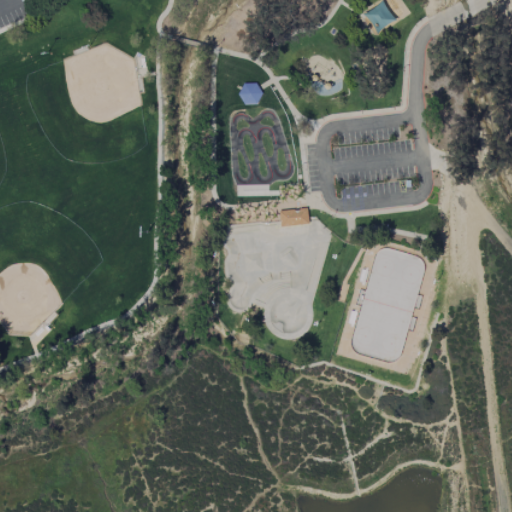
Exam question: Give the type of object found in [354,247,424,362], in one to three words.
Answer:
sports court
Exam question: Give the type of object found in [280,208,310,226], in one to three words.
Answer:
building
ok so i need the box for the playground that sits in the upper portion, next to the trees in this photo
[308,55,344,96]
